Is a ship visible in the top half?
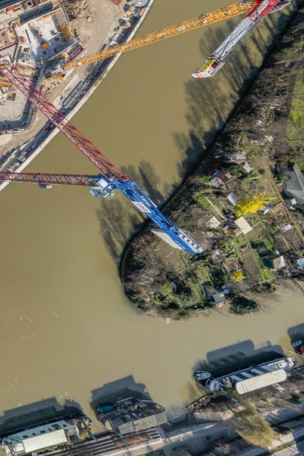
No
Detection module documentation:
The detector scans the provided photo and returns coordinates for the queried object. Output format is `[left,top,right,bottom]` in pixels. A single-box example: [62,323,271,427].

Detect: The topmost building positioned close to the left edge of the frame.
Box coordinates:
[10,8,77,70]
